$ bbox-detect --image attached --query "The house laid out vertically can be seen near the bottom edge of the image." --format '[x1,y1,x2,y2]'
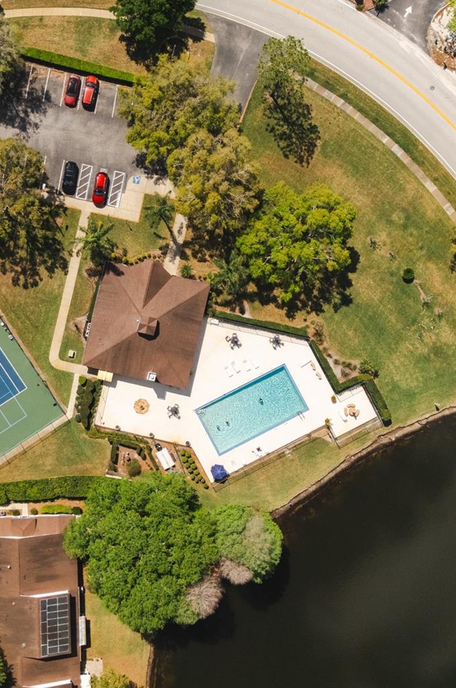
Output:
[0,516,80,688]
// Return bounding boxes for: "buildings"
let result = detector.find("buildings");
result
[0,516,80,688]
[83,259,209,388]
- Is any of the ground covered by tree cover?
Yes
